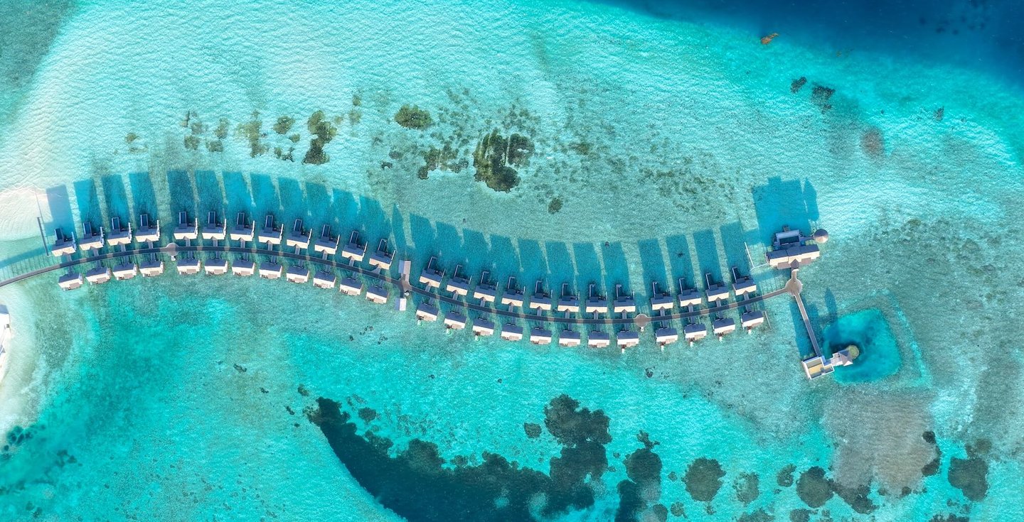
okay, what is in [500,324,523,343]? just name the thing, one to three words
house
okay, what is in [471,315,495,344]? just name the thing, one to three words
house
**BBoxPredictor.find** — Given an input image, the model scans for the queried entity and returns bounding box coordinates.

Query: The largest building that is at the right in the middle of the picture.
[762,226,819,270]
